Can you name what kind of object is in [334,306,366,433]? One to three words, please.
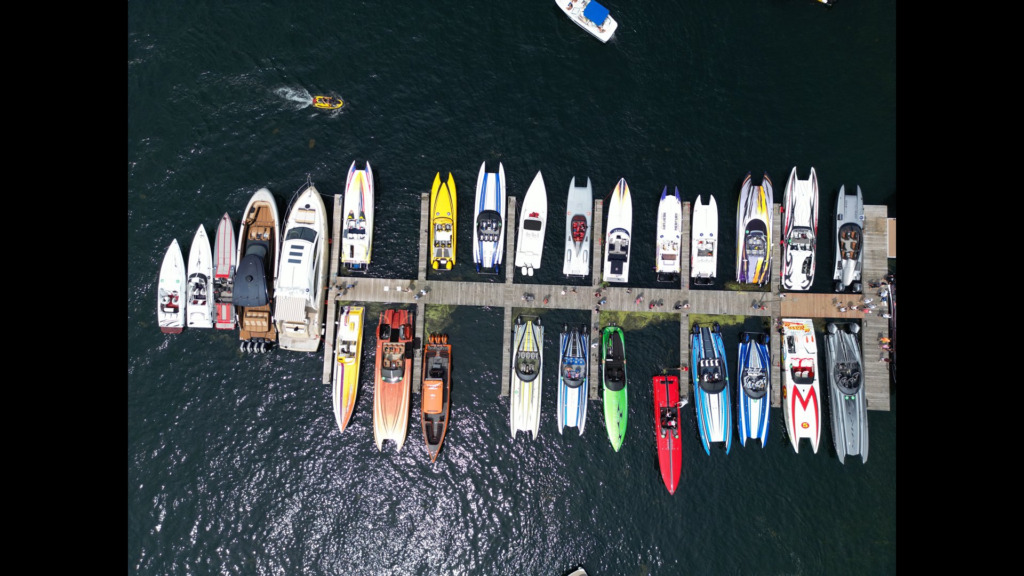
boat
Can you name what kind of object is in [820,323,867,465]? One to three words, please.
boat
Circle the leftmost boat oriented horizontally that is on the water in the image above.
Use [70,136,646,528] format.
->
[313,97,343,109]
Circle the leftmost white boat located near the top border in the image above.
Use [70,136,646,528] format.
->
[553,0,618,46]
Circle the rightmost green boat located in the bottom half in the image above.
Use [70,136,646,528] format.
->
[601,323,627,452]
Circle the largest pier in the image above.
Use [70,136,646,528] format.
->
[324,193,890,410]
